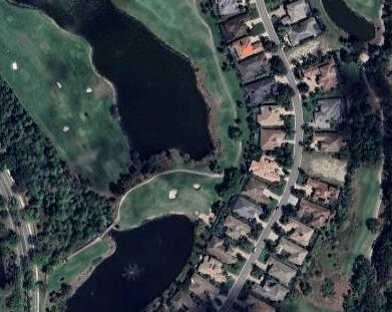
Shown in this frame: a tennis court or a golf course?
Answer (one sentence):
The one in the frame is a golf course.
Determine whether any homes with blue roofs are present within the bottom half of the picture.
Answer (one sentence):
No, within the bottom half of the picture there is no home with a blue roof.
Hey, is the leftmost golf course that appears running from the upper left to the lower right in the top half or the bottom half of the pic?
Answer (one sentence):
Seen from above, the leftmost golf course that appears running from the upper left to the lower right lies in the top half of the view.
